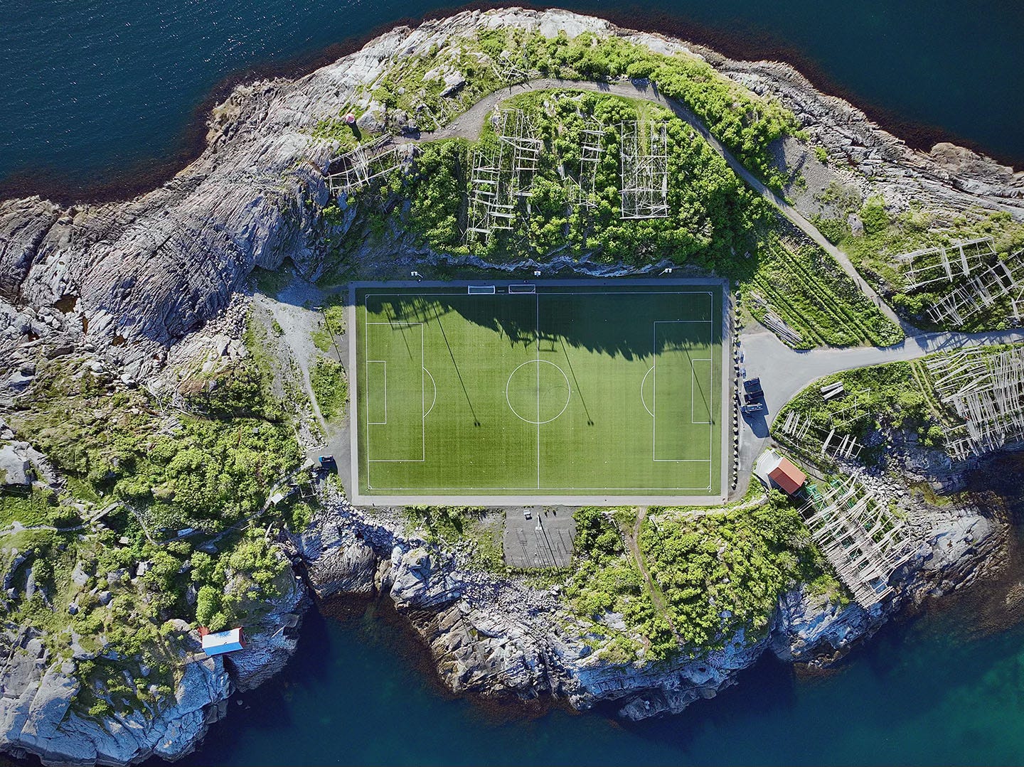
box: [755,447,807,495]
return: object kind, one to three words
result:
house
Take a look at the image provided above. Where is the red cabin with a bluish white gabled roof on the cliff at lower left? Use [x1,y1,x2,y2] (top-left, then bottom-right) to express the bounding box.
[199,625,247,655]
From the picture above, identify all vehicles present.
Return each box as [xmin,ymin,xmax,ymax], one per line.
[745,391,765,401]
[318,456,333,463]
[744,379,762,389]
[740,403,766,414]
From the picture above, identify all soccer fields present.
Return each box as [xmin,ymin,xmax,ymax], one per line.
[349,279,729,505]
